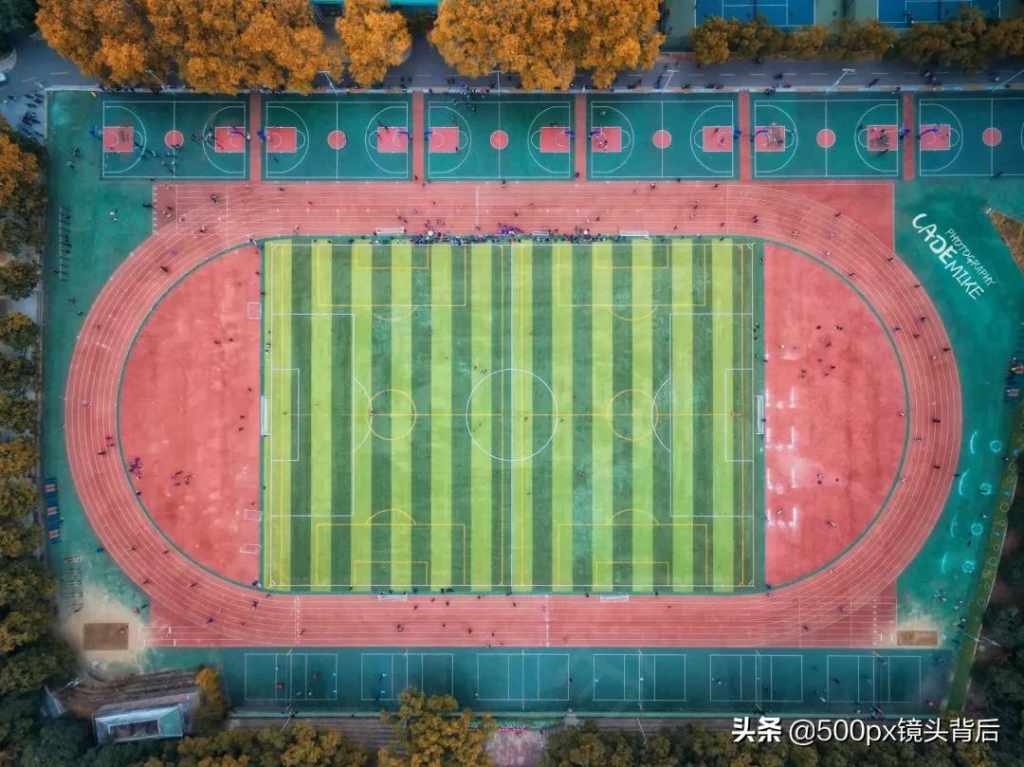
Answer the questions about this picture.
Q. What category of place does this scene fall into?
sports ground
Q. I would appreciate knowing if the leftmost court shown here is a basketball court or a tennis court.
basketball court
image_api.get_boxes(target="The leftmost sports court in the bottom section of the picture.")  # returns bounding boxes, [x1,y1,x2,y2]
[245,654,336,700]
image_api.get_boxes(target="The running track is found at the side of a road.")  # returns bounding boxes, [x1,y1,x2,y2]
[63,181,963,648]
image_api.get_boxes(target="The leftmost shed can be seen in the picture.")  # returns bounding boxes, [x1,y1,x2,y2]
[39,679,68,718]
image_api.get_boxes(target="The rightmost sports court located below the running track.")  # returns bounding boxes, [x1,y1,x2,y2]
[827,656,921,702]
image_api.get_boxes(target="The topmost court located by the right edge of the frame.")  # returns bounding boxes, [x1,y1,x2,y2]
[877,0,1001,30]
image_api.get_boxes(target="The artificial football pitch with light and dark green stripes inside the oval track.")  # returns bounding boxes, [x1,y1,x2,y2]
[264,239,760,591]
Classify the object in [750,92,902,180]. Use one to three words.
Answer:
basketball court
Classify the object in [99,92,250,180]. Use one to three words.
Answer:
basketball court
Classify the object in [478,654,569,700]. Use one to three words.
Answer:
sports court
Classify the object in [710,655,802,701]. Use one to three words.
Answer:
sports court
